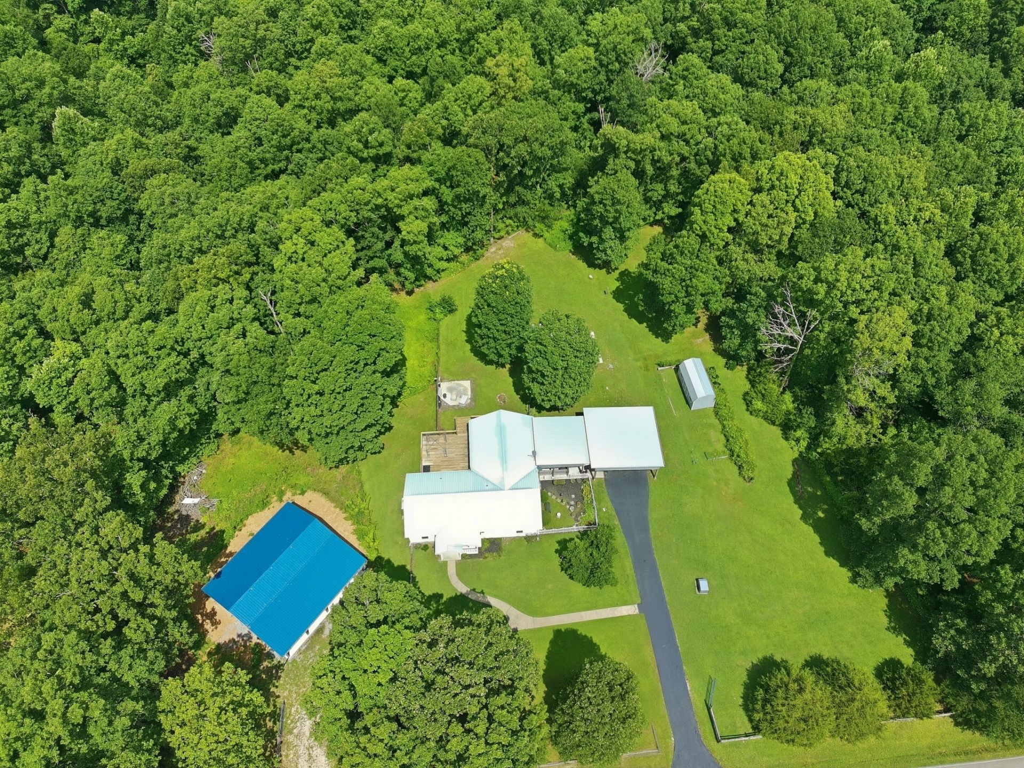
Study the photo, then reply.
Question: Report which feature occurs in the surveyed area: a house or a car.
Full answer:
The one in the frame is a house.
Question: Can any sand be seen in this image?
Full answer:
No, the scene doesn't show any sand.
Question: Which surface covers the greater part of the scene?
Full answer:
The largest share of the image is taken up by trees.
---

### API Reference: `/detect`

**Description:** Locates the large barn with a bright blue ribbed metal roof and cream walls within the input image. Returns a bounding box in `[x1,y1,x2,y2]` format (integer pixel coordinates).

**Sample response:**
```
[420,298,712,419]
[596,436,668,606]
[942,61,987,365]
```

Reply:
[202,501,368,661]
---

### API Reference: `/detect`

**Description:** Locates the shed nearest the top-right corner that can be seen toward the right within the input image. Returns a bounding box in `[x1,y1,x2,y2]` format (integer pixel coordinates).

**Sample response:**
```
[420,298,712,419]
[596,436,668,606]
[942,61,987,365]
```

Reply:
[678,355,719,410]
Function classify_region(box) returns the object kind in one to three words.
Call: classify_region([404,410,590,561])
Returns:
house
